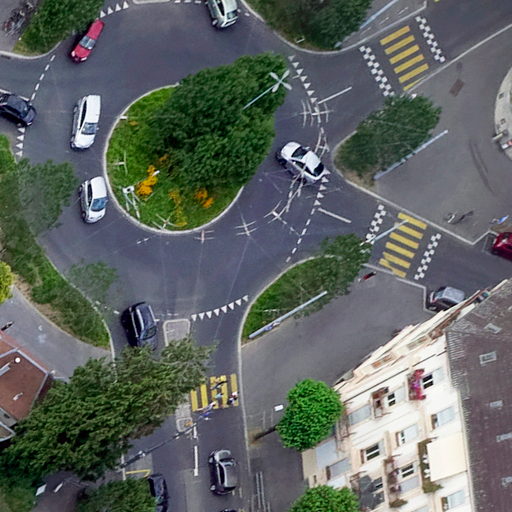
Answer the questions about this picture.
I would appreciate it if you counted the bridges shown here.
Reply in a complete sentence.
The count of bridges is 0.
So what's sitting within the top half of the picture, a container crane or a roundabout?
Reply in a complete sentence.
The one visible within the top half of the picture is a roundabout.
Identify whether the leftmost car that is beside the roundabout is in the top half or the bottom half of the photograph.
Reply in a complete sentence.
It is in the top half that the leftmost car that is beside the roundabout appears.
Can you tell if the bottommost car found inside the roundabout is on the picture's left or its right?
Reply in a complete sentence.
The bottommost car found inside the roundabout sits on the left side.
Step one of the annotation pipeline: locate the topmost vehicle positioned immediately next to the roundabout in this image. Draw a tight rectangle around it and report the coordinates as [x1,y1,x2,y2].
[204,0,240,28]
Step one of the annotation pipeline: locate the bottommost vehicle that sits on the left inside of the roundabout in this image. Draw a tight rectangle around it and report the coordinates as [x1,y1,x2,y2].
[80,176,109,220]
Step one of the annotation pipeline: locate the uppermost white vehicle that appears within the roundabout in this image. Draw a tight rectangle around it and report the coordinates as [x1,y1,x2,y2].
[71,96,100,147]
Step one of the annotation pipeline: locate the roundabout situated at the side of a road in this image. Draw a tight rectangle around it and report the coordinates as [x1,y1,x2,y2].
[38,19,318,299]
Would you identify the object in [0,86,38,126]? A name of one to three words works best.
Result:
car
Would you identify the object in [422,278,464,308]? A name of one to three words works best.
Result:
car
